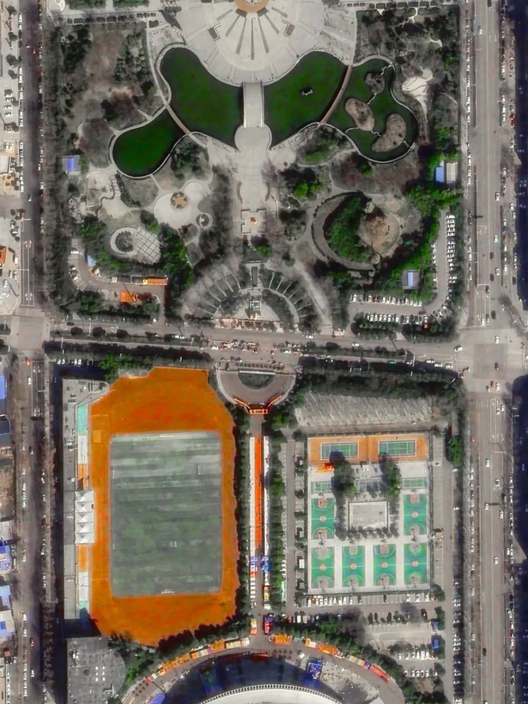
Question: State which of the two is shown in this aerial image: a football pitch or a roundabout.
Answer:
football pitch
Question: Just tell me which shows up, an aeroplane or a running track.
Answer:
running track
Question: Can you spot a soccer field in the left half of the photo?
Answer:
Yes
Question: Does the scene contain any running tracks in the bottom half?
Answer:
Yes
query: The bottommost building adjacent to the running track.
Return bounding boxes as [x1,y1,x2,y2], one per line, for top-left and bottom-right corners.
[66,638,125,704]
